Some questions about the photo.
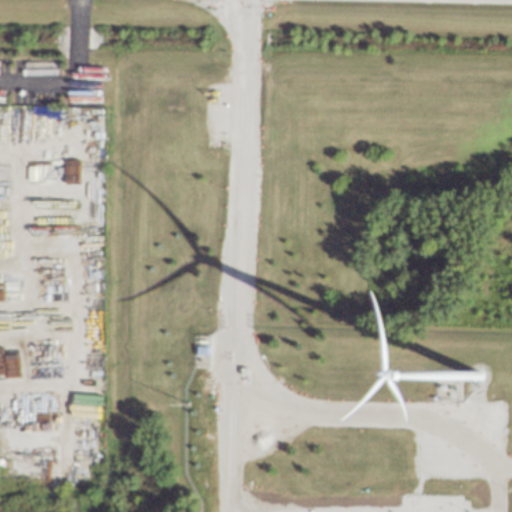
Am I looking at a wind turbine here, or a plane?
wind turbine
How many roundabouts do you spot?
0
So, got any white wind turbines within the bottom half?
Yes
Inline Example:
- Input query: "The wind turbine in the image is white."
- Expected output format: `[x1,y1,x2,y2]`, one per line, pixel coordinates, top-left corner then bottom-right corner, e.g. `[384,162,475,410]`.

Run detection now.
[348,293,496,434]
